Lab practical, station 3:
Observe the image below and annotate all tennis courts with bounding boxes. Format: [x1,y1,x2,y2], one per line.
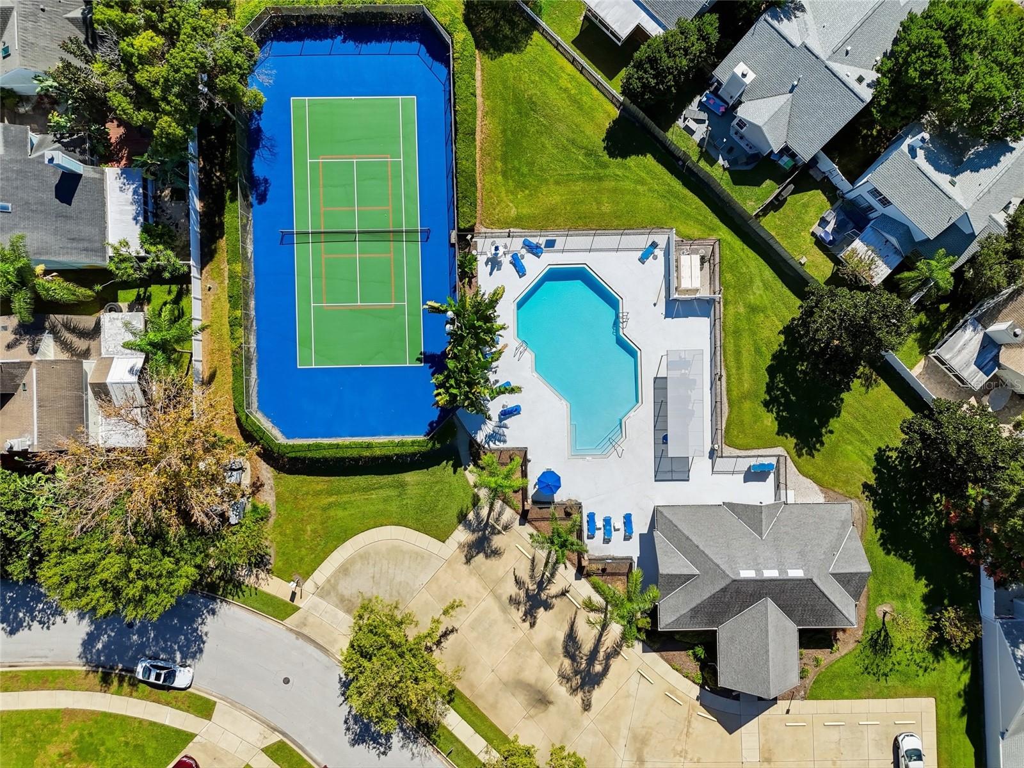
[246,17,464,443]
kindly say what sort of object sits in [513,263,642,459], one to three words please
swimming pool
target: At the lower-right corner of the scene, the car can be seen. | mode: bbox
[893,731,924,768]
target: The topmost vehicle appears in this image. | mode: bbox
[137,657,195,689]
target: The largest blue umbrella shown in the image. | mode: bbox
[537,471,560,494]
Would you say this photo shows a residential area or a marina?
residential area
